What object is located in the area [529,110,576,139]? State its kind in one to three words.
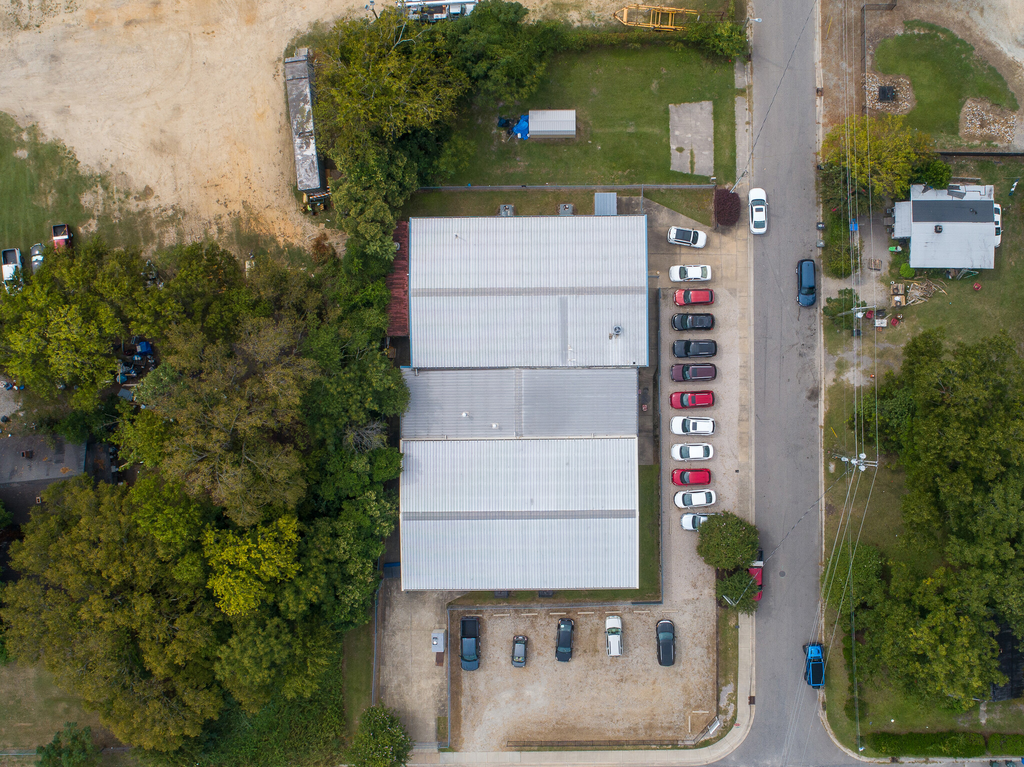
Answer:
shed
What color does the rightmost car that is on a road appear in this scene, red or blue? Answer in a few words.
blue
